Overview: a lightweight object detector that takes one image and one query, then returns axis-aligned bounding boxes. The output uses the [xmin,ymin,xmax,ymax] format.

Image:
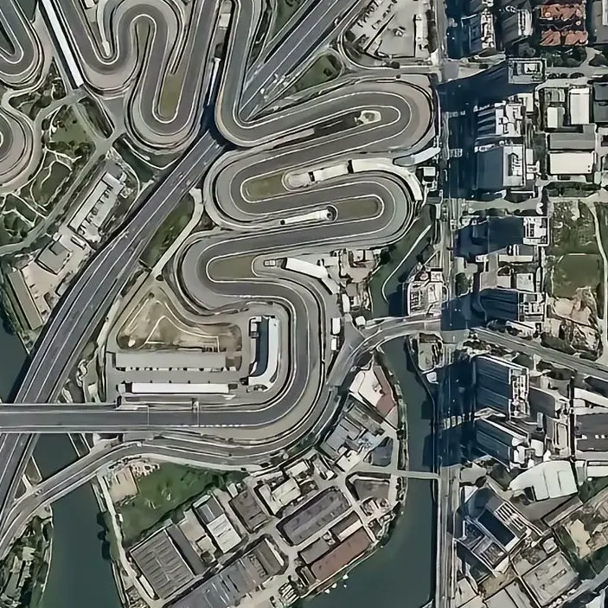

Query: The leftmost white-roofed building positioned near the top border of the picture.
[39,0,85,88]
